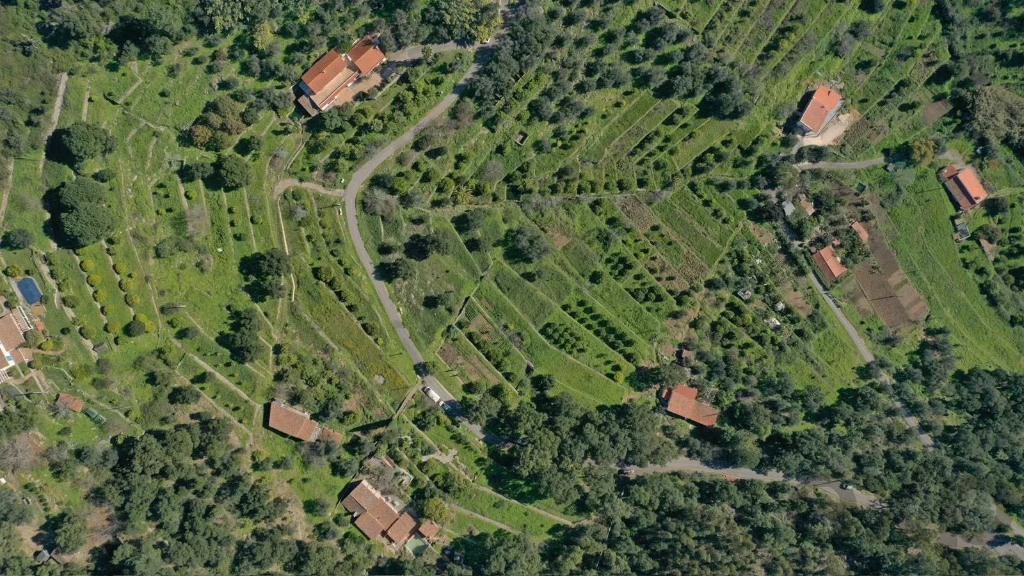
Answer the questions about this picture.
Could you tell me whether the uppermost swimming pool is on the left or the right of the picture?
left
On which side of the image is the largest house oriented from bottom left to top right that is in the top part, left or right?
left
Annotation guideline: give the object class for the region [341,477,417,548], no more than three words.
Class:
house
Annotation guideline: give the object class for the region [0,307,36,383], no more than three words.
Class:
house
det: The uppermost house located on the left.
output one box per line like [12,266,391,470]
[298,34,387,117]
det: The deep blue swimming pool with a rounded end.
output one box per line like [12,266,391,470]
[13,274,44,308]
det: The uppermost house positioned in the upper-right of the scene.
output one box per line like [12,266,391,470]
[796,85,846,137]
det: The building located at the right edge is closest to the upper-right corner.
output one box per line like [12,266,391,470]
[940,165,988,214]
